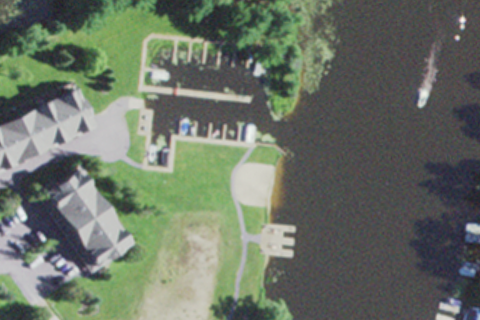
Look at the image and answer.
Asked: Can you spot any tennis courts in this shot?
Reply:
No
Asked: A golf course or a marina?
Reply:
marina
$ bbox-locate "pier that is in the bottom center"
[260,224,296,258]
